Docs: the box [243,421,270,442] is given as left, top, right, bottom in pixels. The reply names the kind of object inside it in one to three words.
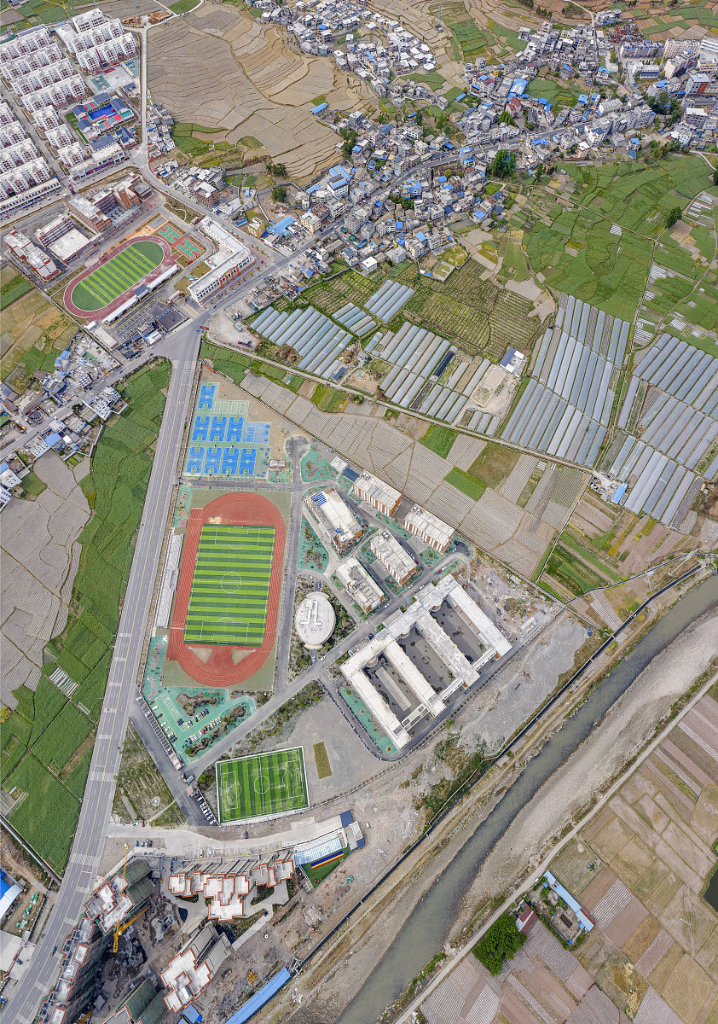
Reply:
sports court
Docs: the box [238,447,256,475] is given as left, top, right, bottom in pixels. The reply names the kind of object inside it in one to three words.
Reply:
basketball court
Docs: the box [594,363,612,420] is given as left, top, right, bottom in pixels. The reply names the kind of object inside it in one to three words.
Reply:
greenhouse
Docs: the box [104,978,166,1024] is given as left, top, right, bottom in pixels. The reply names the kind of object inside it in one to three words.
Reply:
building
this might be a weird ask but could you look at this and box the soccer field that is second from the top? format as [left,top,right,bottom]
[182,523,276,647]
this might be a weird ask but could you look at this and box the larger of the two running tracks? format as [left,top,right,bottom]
[159,489,292,689]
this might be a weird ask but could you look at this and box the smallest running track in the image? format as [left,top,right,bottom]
[63,234,178,319]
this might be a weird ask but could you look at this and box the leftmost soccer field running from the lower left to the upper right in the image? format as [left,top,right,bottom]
[72,240,163,310]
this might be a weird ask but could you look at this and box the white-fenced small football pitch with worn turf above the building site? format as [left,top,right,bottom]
[213,744,312,827]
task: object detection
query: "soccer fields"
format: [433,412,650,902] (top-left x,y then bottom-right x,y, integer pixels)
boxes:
[182,523,276,647]
[213,744,312,827]
[72,240,163,310]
